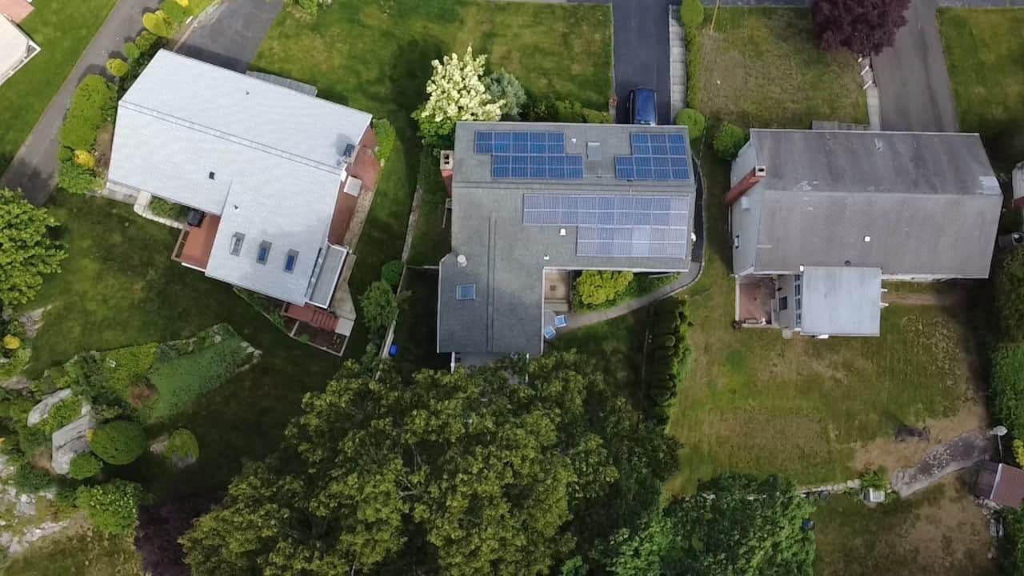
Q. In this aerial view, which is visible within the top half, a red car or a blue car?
blue car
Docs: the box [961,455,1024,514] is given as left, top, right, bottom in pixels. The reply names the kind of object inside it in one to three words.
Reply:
shed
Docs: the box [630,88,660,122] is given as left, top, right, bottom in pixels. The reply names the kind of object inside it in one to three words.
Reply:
car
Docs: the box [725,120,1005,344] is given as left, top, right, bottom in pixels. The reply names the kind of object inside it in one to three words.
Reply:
house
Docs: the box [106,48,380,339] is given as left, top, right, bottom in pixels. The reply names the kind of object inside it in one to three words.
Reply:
house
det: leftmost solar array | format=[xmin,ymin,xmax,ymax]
[474,130,584,178]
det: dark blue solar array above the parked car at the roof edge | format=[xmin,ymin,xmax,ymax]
[614,130,690,178]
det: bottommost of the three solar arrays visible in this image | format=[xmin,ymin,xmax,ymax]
[523,193,690,256]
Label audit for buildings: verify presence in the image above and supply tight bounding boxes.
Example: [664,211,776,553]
[106,48,380,339]
[725,120,1005,344]
[961,455,1024,514]
[0,0,49,96]
[436,122,697,386]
